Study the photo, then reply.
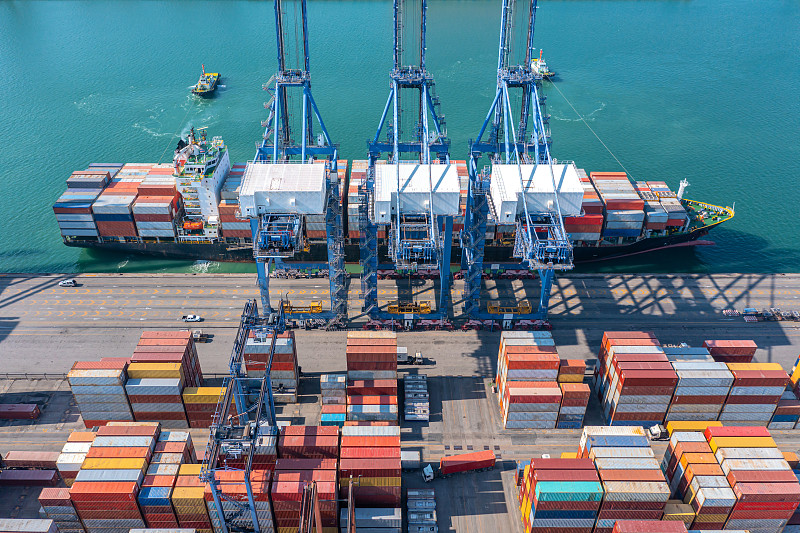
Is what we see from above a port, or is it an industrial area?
port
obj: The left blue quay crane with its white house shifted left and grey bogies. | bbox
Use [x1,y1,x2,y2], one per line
[234,0,352,328]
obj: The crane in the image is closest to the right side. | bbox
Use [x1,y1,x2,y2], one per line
[455,0,587,328]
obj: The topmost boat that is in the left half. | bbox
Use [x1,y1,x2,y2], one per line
[188,60,226,98]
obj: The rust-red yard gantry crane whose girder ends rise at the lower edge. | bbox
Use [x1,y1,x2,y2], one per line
[293,489,351,533]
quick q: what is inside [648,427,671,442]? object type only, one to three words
vehicle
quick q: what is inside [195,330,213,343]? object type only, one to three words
vehicle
